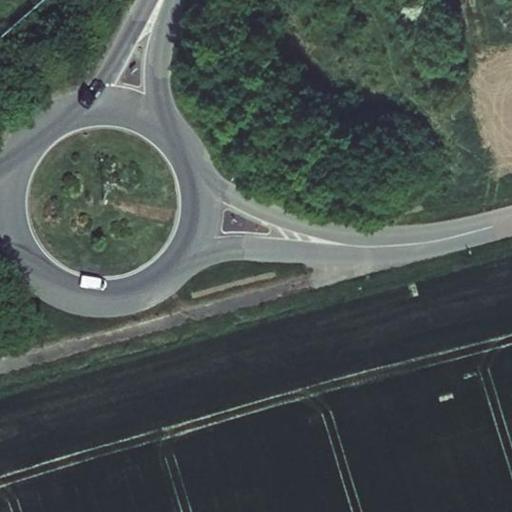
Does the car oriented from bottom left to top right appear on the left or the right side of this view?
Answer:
left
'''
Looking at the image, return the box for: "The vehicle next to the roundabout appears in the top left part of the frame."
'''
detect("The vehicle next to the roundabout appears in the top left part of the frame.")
[82,81,104,108]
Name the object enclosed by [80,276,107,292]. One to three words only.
vehicle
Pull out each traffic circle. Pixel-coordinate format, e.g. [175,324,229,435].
[0,94,212,310]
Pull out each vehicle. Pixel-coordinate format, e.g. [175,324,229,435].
[82,81,104,108]
[80,276,107,292]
